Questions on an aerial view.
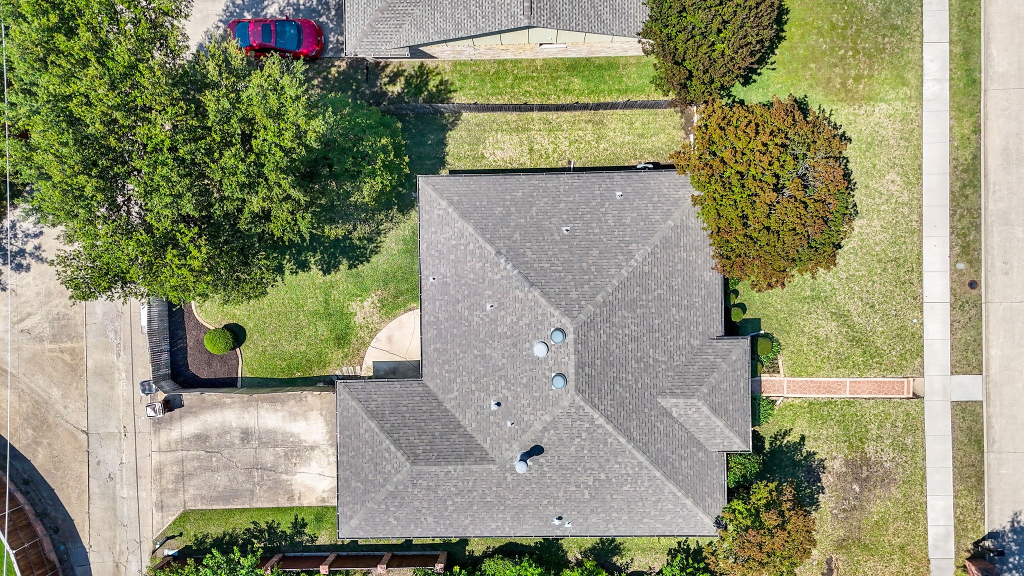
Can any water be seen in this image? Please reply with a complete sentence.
No, the picture contains no water.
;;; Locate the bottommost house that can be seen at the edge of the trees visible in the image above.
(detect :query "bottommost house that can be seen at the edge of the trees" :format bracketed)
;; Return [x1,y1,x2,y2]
[336,171,751,540]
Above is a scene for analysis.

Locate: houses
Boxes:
[340,0,657,61]
[336,171,751,540]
